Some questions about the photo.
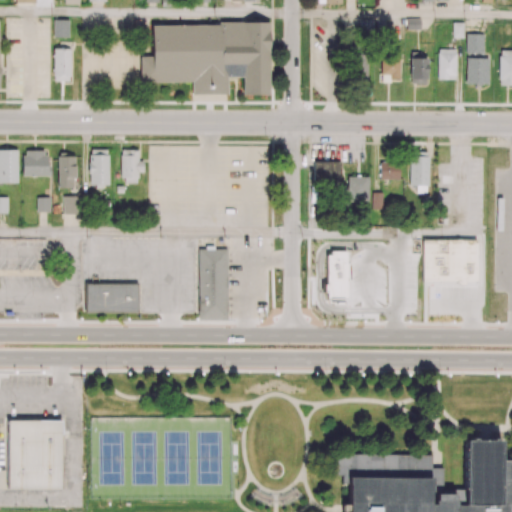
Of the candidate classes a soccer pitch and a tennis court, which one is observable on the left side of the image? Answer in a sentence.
Looking on the left side of the image, you will find a tennis court.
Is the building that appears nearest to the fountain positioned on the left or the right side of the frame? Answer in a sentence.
It is on the right.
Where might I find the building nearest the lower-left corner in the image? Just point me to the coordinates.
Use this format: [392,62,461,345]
[8,420,64,491]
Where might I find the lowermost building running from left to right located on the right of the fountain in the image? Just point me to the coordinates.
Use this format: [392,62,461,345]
[340,441,512,512]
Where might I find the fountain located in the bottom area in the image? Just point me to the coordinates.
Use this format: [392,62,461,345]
[268,462,284,478]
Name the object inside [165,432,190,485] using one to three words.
tennis court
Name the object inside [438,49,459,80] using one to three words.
house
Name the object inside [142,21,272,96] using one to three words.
building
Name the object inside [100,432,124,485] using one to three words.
tennis court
